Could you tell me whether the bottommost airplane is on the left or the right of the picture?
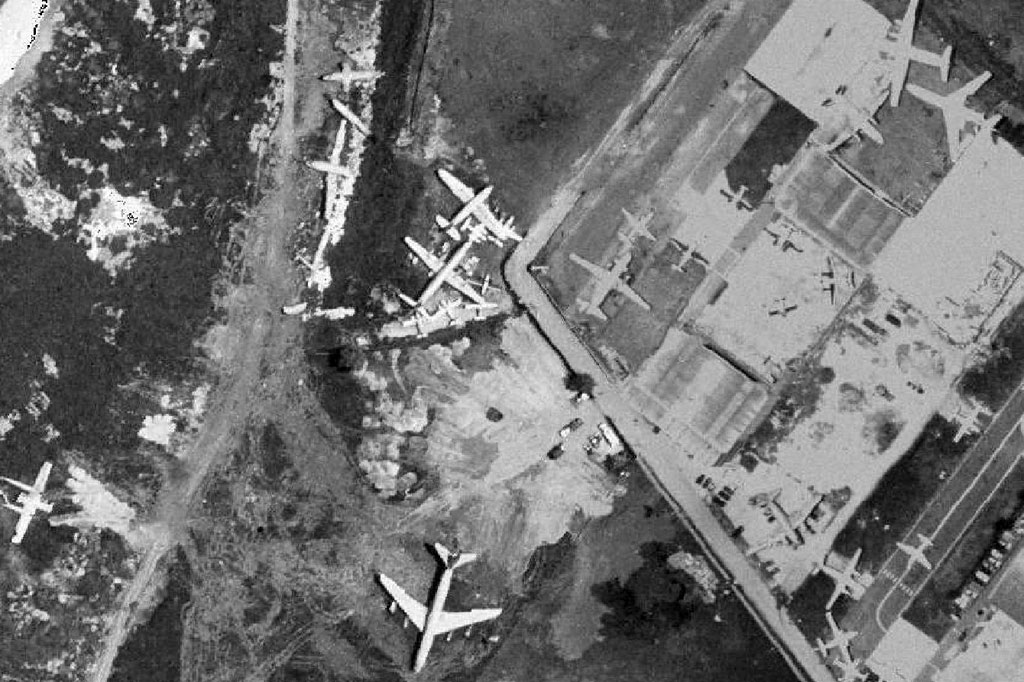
right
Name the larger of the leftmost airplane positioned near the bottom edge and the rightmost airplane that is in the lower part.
the leftmost airplane positioned near the bottom edge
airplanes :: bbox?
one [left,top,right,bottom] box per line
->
[768,297,798,318]
[815,612,859,665]
[398,236,486,307]
[872,0,955,105]
[815,257,857,305]
[570,251,651,321]
[834,652,871,682]
[764,222,804,254]
[897,534,935,570]
[815,548,870,611]
[671,237,711,275]
[323,62,384,93]
[950,397,994,442]
[436,168,524,241]
[380,543,502,672]
[908,72,1004,161]
[748,487,826,556]
[12,461,54,542]
[616,207,657,248]
[828,89,891,151]
[720,184,754,212]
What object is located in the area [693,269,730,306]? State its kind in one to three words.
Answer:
shed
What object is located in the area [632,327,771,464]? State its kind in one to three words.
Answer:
hangar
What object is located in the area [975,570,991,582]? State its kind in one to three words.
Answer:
vehicle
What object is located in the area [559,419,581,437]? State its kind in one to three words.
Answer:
vehicle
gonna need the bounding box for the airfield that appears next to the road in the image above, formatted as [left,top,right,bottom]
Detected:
[665,0,1024,682]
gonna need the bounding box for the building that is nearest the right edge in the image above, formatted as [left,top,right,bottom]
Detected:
[780,150,910,272]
